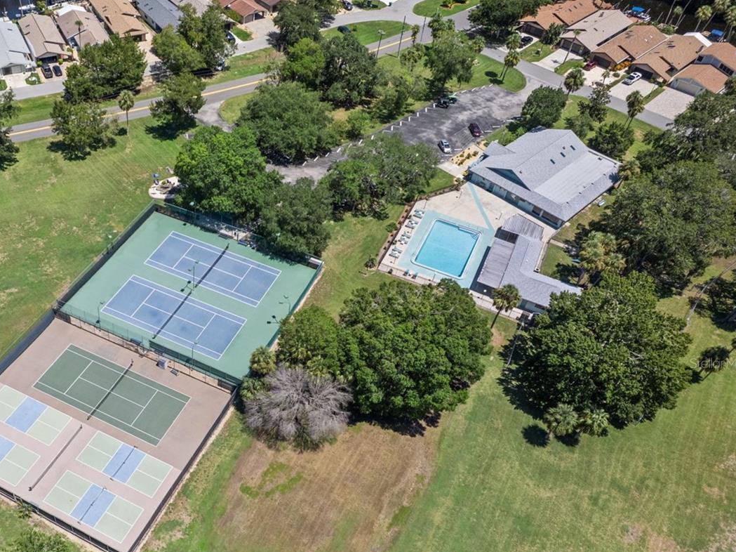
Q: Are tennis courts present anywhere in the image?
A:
Yes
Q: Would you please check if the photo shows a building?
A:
Yes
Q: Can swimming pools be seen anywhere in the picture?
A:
Yes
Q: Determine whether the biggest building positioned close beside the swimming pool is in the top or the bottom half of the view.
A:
top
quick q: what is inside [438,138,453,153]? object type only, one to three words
car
